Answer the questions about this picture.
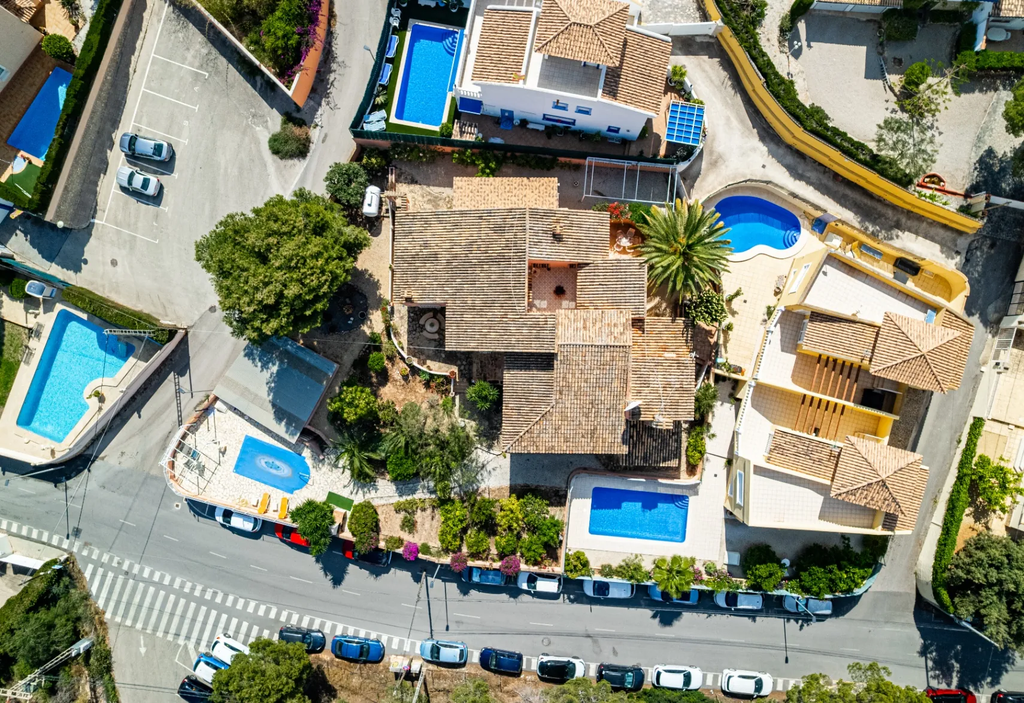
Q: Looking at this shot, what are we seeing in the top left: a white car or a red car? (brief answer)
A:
white car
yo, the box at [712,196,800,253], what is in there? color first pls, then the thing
blue swimming pool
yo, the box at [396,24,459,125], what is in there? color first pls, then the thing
blue swimming pool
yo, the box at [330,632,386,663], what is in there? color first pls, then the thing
blue car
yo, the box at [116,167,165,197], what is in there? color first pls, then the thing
white car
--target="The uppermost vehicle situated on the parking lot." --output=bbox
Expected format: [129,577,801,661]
[121,132,176,163]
